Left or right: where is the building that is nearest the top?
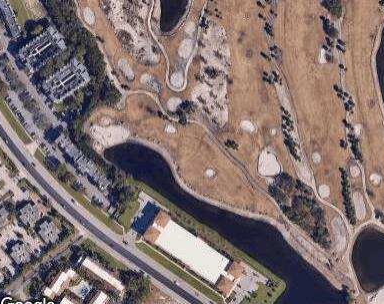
left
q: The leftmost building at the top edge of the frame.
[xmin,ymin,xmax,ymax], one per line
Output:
[0,0,22,39]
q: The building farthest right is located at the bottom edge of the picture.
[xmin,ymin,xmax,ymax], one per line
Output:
[144,209,246,299]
